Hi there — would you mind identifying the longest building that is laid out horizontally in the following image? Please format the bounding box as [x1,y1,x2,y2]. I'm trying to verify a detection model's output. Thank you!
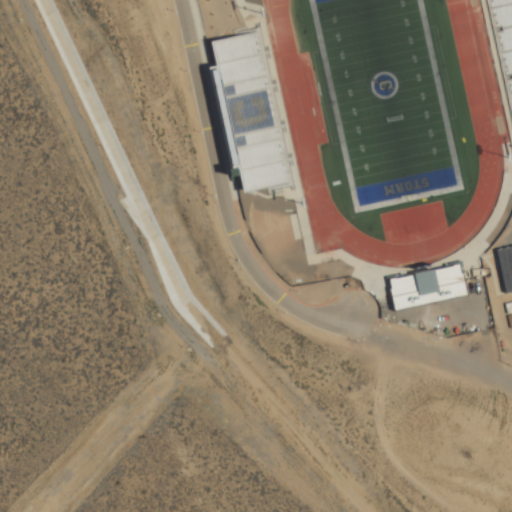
[390,264,466,310]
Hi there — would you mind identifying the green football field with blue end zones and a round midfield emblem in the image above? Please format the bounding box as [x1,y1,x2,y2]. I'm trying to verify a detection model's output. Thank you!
[289,0,478,242]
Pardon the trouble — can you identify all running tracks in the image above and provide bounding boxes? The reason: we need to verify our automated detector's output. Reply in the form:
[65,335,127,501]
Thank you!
[263,0,511,268]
